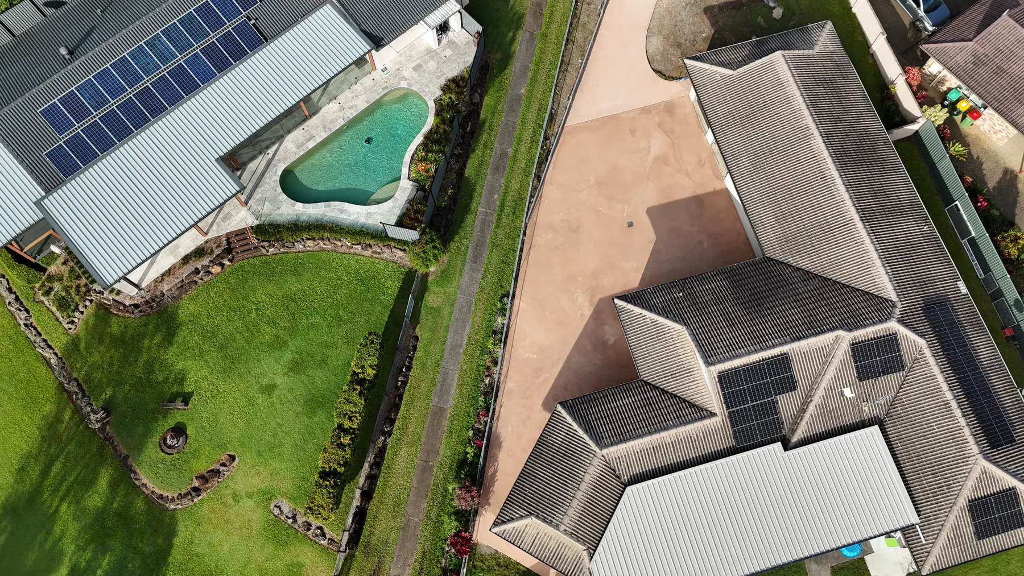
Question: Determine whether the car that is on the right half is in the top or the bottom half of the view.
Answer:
top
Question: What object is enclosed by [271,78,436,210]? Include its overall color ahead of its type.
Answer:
green swimming pool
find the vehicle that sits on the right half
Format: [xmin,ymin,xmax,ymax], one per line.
[890,0,949,38]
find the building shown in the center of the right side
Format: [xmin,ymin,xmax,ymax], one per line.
[490,19,1024,576]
